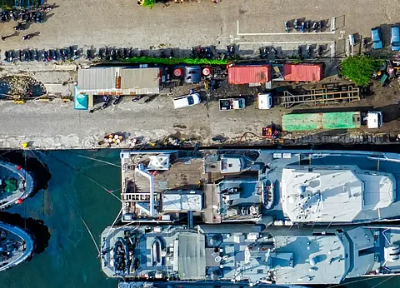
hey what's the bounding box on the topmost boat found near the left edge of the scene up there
[0,160,40,210]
